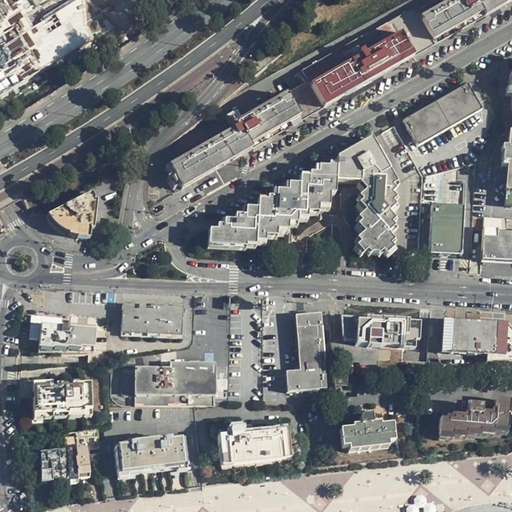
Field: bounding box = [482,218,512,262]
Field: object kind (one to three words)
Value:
building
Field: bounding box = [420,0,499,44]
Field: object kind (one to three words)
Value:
building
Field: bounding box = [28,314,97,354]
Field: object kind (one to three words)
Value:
house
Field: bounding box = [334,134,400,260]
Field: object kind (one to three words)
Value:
house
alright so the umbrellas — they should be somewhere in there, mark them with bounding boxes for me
[424,502,436,512]
[406,503,418,512]
[414,494,426,506]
